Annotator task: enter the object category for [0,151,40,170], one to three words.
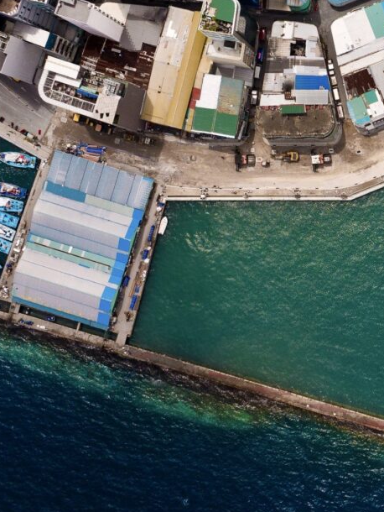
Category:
boat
